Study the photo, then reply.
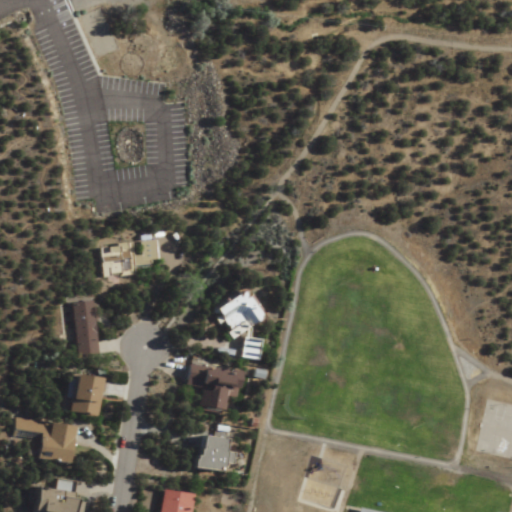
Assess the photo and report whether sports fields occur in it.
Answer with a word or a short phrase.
Yes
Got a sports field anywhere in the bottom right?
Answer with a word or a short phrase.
Yes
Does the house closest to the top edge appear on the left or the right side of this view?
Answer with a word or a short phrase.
left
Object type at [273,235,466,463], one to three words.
sports field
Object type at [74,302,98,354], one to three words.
house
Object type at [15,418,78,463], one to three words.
house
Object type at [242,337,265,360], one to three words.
shed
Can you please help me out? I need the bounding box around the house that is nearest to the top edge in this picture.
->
[100,239,160,278]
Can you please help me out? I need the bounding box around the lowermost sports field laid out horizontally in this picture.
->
[348,453,512,512]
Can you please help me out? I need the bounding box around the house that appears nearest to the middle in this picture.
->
[218,291,268,340]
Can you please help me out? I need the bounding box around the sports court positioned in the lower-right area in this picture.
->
[477,399,512,458]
